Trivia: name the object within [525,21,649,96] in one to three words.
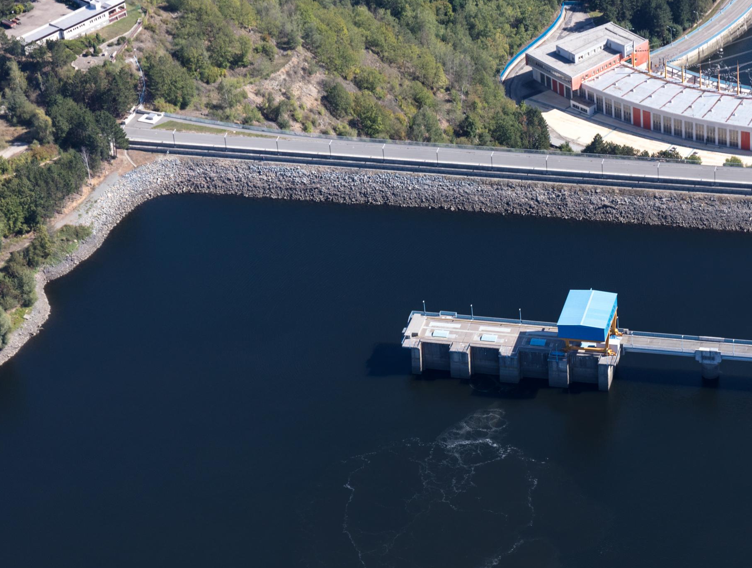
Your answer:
building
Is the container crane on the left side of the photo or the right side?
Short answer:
right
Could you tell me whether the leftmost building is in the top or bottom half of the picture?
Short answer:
top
